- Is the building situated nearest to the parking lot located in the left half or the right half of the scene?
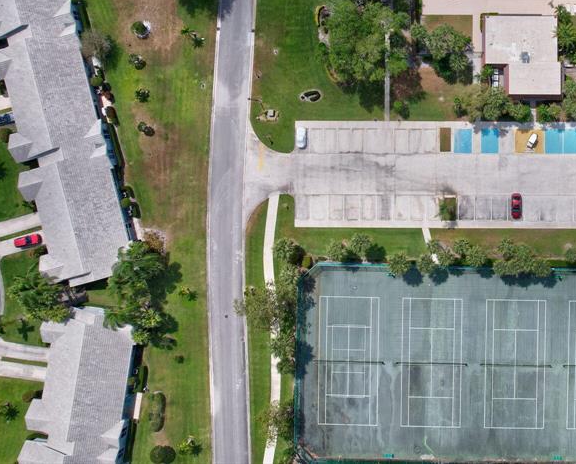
right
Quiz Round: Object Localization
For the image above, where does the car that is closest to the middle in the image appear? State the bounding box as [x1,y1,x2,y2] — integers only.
[294,127,306,148]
